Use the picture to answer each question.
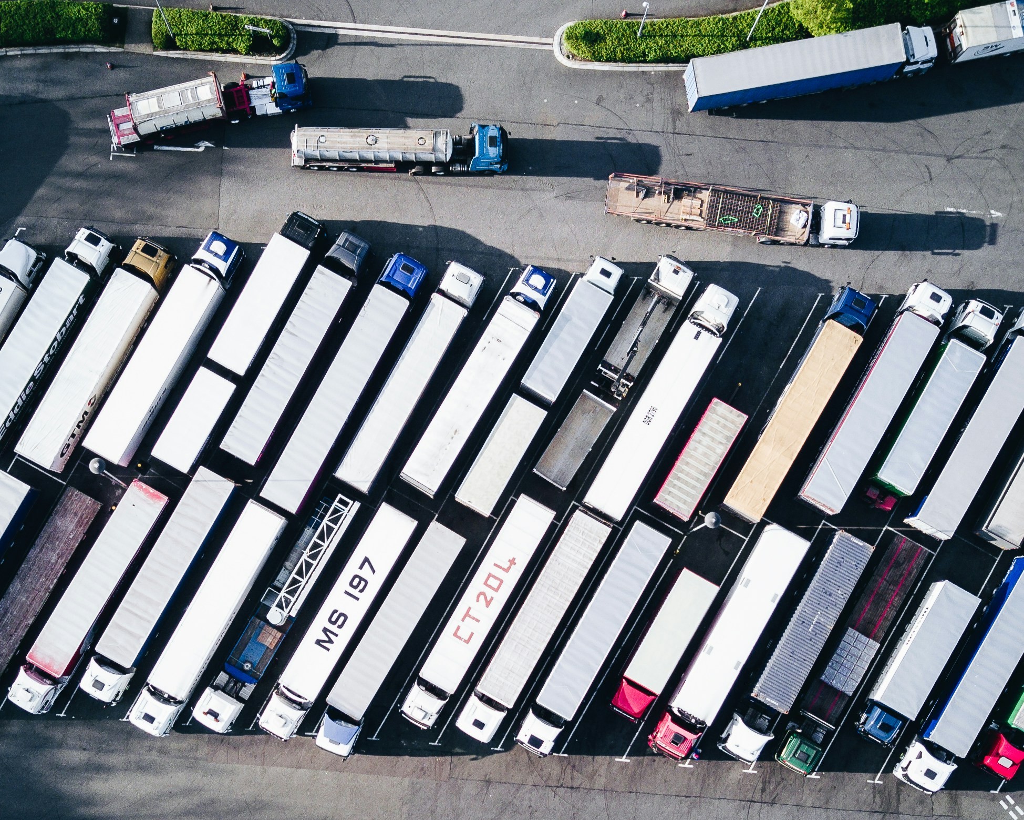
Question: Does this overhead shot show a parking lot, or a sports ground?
parking lot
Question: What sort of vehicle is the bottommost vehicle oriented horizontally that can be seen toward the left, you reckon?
truck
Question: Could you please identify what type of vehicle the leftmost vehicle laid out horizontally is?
truck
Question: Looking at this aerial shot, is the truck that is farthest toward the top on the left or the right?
right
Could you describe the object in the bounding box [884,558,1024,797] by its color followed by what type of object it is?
white truck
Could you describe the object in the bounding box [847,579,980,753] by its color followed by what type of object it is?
white truck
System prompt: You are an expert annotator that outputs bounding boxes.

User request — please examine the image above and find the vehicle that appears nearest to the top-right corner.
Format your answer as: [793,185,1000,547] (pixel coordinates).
[944,1,1024,64]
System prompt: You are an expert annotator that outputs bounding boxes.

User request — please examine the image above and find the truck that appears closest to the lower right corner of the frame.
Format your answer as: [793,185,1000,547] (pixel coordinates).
[964,673,1024,788]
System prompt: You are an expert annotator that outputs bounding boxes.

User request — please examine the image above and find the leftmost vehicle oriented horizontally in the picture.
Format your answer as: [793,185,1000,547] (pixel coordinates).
[109,61,315,151]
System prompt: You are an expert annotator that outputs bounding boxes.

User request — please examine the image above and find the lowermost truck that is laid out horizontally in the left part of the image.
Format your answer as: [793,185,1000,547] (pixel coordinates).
[292,121,513,174]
